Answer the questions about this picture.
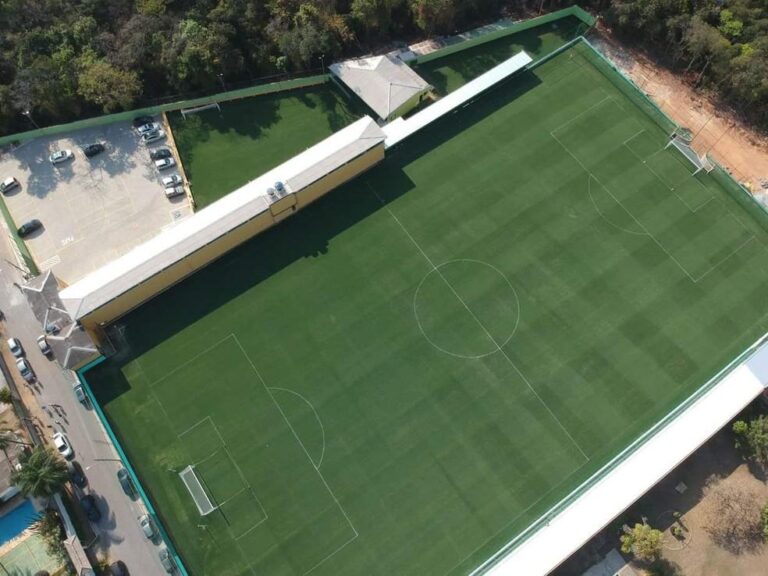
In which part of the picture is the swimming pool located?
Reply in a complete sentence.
The swimming pool sits in the bottom left section of the image.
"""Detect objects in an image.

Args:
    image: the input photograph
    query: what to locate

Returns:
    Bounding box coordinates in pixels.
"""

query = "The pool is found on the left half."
[0,496,43,552]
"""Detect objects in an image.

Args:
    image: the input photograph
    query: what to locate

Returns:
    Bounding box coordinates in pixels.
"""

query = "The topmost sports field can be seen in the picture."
[166,15,592,212]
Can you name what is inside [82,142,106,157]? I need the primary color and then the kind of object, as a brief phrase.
black car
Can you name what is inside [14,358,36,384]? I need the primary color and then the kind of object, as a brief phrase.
gray car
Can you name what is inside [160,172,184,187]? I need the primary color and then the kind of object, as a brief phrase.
white car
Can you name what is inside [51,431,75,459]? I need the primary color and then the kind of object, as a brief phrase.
white car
